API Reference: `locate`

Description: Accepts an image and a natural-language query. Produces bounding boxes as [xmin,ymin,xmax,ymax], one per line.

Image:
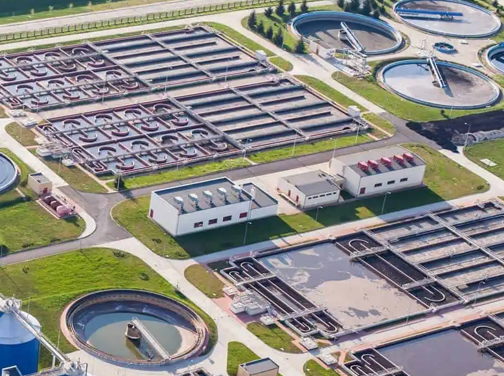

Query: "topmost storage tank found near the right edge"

[392,0,502,39]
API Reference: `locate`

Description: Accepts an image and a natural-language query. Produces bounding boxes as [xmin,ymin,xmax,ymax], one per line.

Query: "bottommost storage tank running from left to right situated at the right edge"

[380,55,502,111]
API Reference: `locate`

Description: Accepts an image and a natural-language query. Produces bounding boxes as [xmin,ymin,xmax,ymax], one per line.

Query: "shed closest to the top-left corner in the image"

[28,172,52,195]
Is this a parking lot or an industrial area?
industrial area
